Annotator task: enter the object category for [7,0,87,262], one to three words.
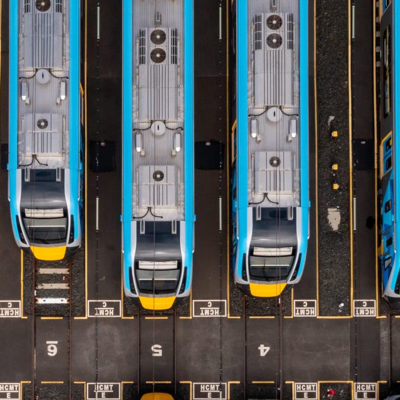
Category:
train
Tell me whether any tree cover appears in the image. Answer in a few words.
No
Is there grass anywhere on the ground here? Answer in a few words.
No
